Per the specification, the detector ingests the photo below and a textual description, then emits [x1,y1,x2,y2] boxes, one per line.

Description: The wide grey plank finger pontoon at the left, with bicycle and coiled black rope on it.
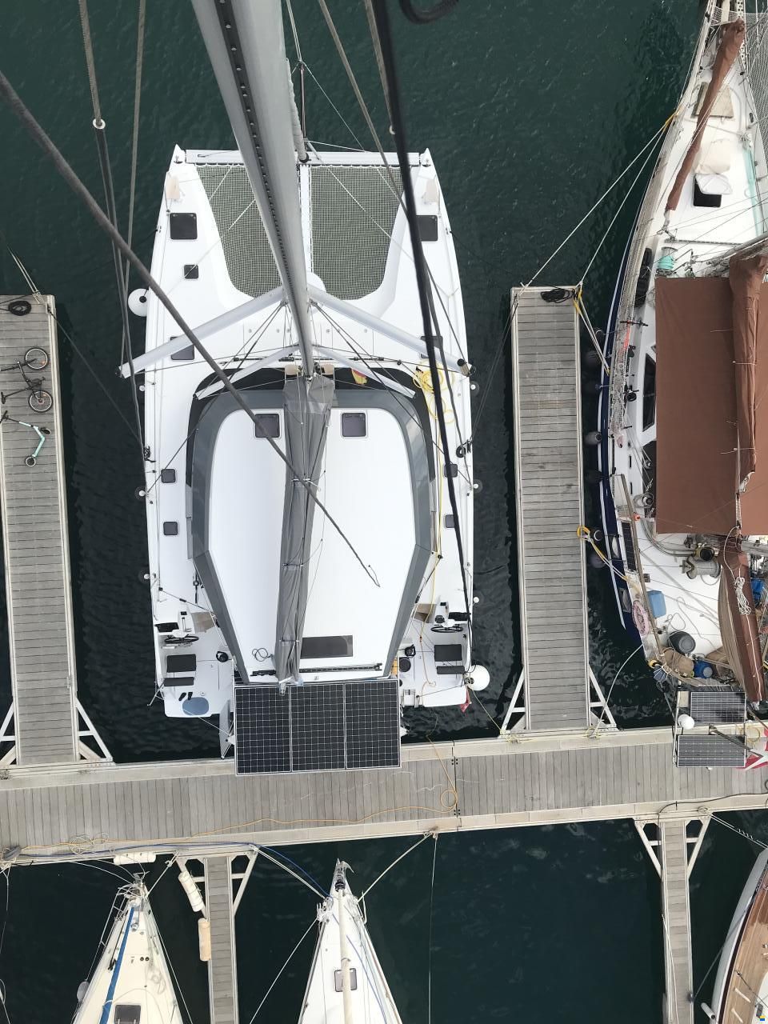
[0,292,113,767]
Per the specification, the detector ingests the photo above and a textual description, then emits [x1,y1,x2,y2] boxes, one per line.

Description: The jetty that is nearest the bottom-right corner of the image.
[634,814,711,1024]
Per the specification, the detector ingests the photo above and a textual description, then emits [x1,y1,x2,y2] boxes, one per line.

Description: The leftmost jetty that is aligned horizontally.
[0,733,458,868]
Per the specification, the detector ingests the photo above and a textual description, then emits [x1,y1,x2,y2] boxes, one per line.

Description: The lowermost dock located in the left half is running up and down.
[175,849,258,1024]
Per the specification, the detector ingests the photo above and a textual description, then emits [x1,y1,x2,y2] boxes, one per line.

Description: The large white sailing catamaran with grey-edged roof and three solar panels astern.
[76,0,475,773]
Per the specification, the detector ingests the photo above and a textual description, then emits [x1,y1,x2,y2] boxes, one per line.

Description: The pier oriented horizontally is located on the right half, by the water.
[451,714,768,831]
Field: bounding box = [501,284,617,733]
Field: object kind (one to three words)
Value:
pier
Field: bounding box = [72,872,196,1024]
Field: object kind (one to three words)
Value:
boat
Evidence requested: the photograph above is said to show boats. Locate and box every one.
[712,853,768,1024]
[76,0,475,773]
[294,856,405,1024]
[595,0,768,773]
[72,872,196,1024]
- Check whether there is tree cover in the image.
No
